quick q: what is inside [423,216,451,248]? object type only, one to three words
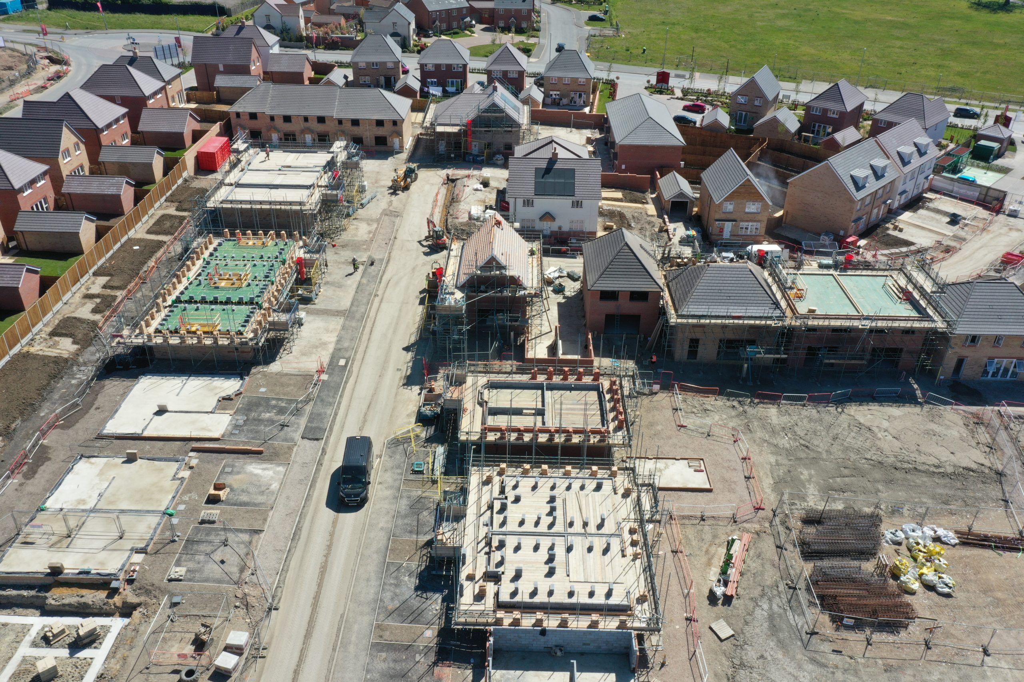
work vehicle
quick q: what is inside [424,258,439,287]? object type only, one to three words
vehicle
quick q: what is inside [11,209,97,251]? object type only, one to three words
building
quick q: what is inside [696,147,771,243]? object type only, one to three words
house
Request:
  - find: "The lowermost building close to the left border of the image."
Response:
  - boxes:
[0,260,41,307]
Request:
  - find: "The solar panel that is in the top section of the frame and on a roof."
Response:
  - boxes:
[535,166,573,191]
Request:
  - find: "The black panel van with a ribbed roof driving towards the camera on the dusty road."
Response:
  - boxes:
[335,436,378,502]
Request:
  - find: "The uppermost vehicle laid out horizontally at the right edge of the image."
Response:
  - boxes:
[953,105,981,118]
